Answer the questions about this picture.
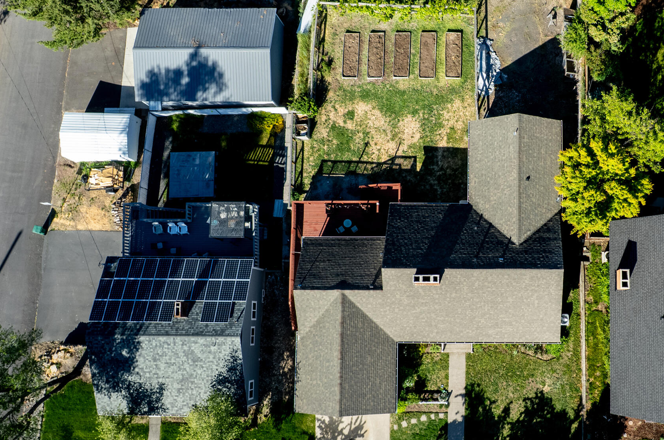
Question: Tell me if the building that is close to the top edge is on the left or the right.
left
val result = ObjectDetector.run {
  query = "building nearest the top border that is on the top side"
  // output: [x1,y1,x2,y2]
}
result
[120,8,287,114]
